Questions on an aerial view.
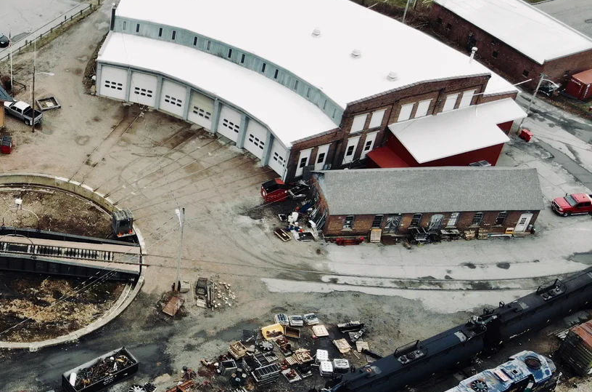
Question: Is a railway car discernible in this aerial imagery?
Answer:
Yes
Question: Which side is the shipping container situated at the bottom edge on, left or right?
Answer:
left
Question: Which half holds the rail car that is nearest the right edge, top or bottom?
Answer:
bottom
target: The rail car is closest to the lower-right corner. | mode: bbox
[558,319,592,373]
